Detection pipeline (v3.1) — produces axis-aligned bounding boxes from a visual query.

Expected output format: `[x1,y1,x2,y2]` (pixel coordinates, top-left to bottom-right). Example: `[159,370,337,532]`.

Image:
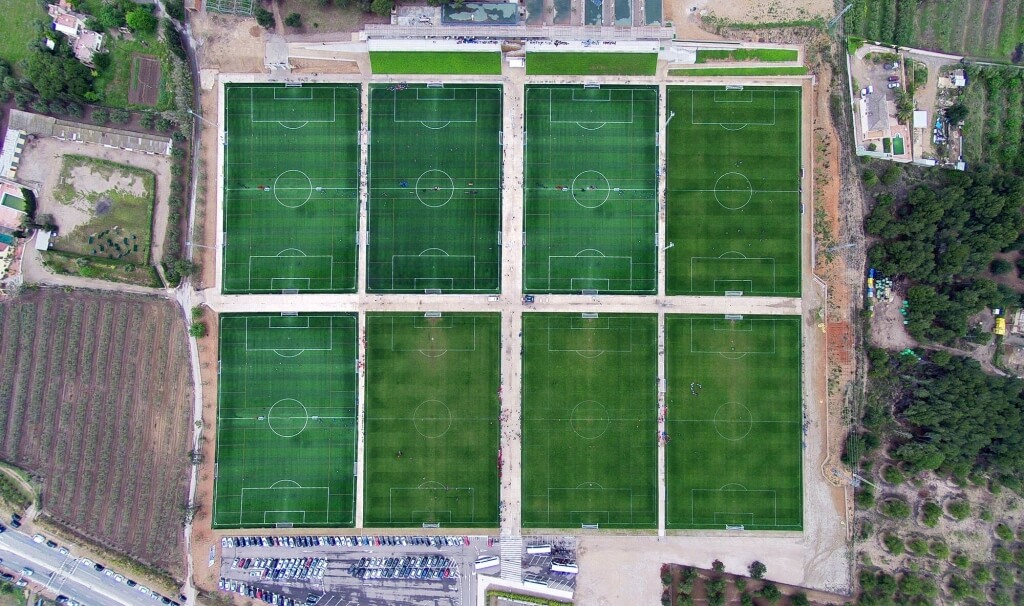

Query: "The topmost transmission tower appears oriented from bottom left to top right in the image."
[824,3,857,31]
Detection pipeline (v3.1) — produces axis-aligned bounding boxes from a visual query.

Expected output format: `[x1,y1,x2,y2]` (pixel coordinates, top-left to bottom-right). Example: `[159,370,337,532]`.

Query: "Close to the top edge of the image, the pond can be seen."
[441,2,519,25]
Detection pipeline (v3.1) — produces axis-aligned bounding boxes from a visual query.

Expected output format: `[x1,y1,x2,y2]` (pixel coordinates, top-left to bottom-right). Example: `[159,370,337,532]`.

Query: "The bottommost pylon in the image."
[828,465,866,483]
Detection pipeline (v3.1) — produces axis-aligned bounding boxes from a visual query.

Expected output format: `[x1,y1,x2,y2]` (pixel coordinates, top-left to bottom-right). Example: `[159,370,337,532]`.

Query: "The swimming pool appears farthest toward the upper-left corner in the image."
[1,194,25,211]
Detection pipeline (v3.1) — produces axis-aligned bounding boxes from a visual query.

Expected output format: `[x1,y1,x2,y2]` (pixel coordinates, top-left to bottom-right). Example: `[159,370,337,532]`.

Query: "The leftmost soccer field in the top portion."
[222,83,361,293]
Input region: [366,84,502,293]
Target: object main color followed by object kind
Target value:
green soccer field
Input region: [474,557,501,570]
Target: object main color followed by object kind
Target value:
white vehicle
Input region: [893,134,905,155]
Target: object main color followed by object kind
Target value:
green swimming pool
